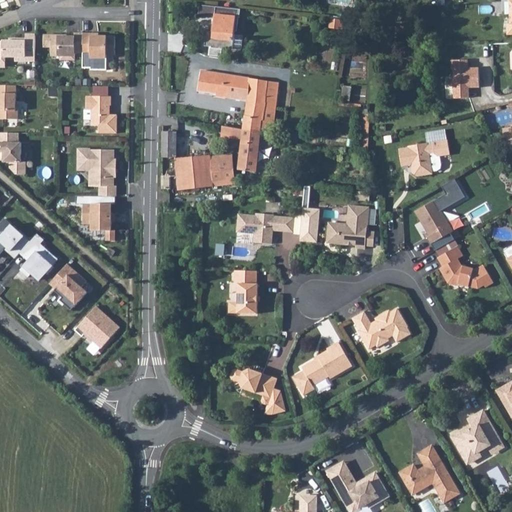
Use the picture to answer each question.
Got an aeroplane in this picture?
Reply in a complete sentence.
No, there isn't any aeroplane down there.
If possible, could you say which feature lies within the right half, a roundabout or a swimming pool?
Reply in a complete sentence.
Looking within the right half, you will find a swimming pool.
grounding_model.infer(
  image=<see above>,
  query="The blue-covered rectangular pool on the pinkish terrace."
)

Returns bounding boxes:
[231,244,250,260]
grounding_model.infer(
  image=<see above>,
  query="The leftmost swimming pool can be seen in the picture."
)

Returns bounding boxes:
[36,164,53,182]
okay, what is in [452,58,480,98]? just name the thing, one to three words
house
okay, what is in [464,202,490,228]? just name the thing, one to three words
swimming pool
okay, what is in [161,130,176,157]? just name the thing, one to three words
barn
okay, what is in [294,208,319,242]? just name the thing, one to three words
house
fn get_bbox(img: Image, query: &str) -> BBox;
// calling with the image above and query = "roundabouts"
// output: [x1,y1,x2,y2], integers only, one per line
[115,376,185,446]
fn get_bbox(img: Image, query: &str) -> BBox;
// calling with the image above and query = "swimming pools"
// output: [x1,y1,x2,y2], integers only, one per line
[231,244,250,260]
[68,173,81,186]
[478,4,494,14]
[322,208,338,220]
[36,164,53,182]
[491,226,512,242]
[464,202,490,228]
[328,0,354,6]
[494,108,512,128]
